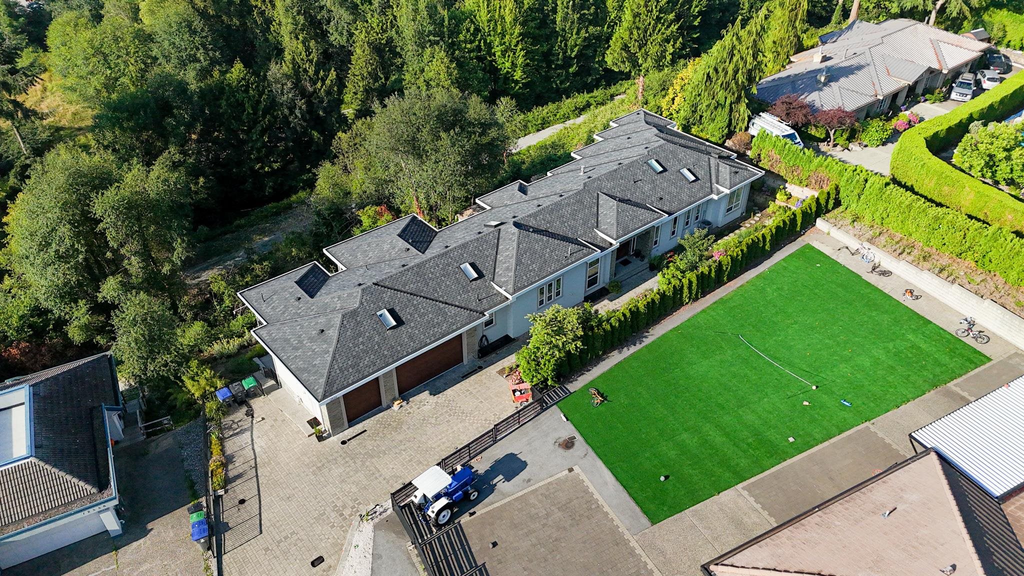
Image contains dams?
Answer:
No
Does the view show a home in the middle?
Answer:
Yes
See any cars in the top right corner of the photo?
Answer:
Yes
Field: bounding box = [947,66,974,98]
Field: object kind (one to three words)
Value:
car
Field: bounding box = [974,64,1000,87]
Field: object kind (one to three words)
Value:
car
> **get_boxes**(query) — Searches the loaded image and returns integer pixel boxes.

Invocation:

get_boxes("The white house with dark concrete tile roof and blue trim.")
[0,359,137,576]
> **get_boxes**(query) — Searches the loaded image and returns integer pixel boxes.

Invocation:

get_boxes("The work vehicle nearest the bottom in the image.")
[416,472,481,528]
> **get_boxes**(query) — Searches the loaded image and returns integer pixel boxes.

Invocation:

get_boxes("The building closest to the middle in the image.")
[235,107,770,437]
